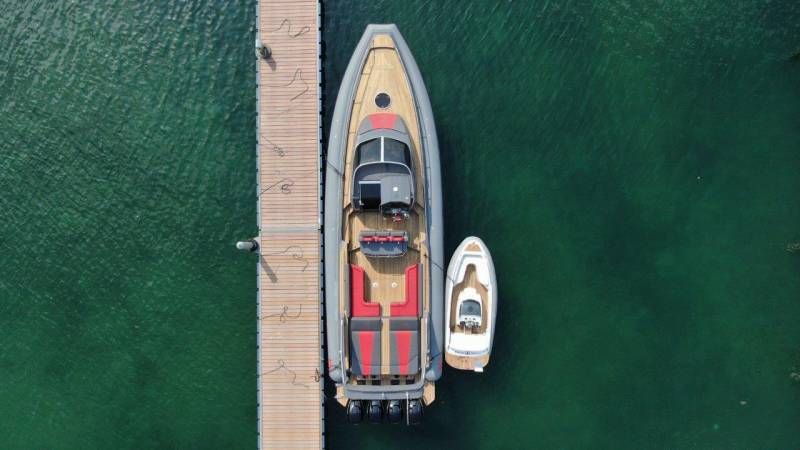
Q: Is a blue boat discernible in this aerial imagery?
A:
No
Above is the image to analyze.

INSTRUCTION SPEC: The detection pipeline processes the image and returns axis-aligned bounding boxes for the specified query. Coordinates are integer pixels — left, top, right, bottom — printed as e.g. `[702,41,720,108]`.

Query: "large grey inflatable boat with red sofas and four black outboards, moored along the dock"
[324,23,445,425]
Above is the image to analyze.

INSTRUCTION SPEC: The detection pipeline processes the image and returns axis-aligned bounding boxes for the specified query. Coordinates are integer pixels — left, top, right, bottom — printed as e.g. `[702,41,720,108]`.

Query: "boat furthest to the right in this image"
[445,236,498,372]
